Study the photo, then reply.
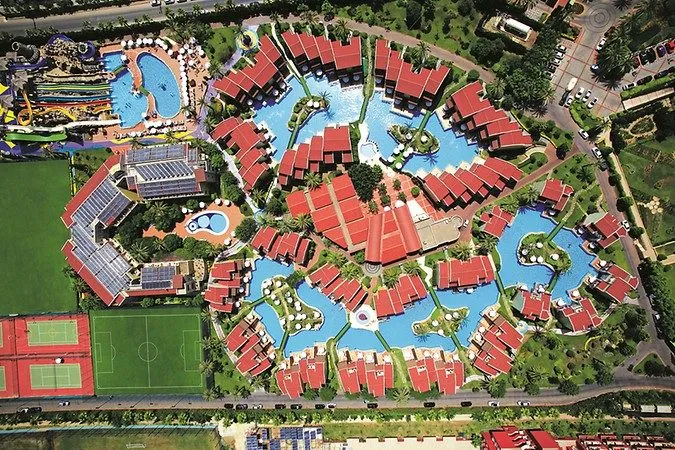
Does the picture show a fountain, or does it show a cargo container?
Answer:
fountain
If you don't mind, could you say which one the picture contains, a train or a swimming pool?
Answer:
swimming pool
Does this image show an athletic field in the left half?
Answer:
Yes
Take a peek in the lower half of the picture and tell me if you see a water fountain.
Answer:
Yes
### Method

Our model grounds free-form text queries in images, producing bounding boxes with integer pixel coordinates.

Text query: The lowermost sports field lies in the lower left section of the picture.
[0,424,222,450]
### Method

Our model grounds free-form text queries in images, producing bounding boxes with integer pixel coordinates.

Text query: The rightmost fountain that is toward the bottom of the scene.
[355,308,372,325]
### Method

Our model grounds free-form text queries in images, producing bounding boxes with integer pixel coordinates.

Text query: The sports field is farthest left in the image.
[0,160,78,315]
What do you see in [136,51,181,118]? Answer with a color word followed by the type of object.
blue swimming pool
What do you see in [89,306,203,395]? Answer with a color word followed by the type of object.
green soccer field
